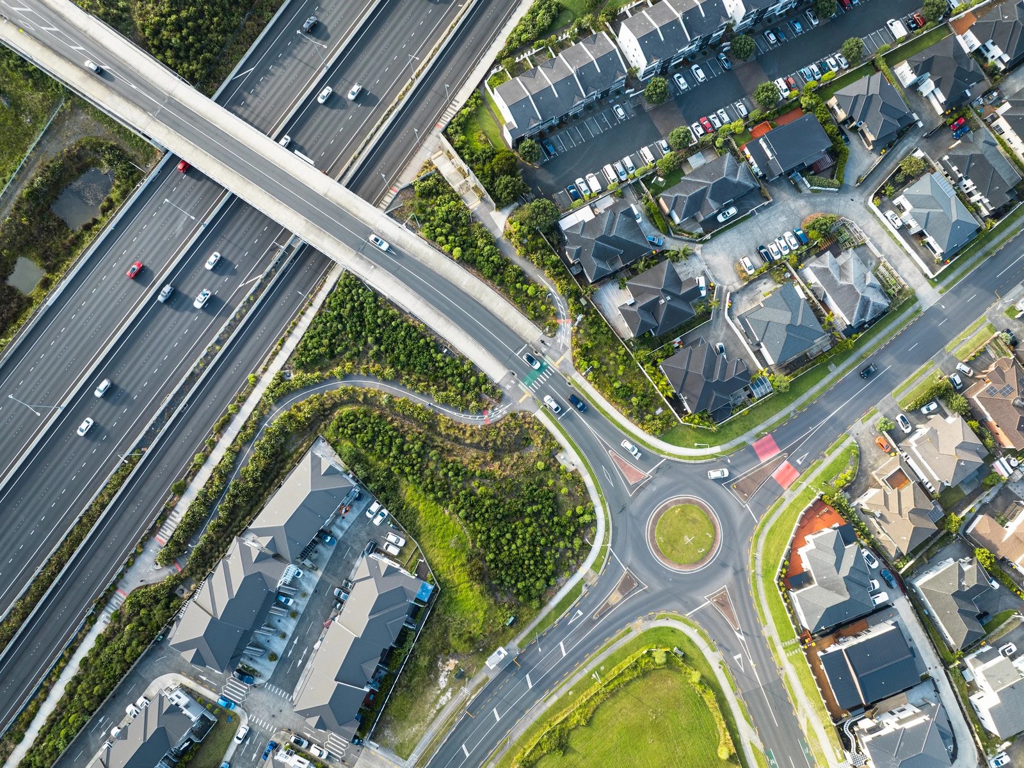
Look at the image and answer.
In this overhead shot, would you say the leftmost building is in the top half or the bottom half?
bottom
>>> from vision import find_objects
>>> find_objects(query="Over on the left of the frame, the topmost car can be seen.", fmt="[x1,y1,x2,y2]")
[301,14,320,35]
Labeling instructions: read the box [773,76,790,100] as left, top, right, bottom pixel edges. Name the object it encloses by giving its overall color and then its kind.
white vehicle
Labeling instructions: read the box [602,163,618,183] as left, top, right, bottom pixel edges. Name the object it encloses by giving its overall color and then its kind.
white car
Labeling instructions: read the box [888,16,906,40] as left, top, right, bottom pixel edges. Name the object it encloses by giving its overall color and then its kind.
white vehicle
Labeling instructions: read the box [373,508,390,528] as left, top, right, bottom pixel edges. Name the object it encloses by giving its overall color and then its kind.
white car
